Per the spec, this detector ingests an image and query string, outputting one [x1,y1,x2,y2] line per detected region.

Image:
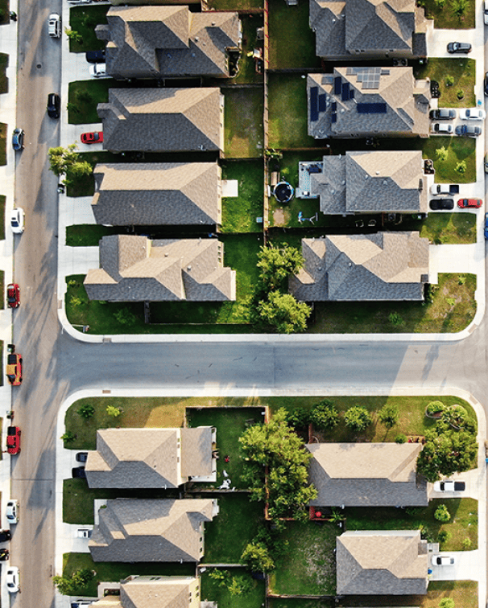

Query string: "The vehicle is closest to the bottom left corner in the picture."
[6,567,21,593]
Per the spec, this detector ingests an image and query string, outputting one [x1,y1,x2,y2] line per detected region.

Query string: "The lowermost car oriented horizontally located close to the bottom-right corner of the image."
[430,555,456,567]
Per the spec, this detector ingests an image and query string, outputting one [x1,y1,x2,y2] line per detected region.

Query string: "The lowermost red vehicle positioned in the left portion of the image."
[6,425,23,456]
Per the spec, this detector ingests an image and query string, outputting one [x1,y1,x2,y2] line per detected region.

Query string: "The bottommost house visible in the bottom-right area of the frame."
[336,531,428,595]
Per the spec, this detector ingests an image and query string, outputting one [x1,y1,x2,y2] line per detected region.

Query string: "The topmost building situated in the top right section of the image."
[309,0,427,60]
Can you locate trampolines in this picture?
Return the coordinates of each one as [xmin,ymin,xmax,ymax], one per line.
[272,179,294,201]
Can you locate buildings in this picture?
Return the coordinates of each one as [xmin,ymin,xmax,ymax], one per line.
[336,531,428,595]
[310,150,428,216]
[89,498,217,563]
[288,232,429,302]
[88,578,200,608]
[307,66,430,140]
[305,443,428,507]
[309,0,427,60]
[91,162,221,225]
[96,5,241,82]
[83,428,215,488]
[84,234,234,301]
[98,88,223,153]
